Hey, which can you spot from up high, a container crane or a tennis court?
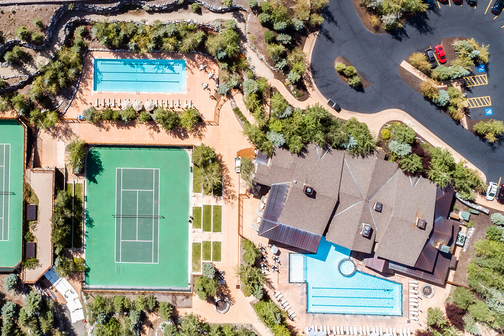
tennis court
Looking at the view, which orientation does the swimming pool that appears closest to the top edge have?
horizontally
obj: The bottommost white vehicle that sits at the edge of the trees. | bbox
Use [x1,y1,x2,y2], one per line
[485,181,498,201]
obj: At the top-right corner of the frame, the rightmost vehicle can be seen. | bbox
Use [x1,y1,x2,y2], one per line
[491,0,504,14]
